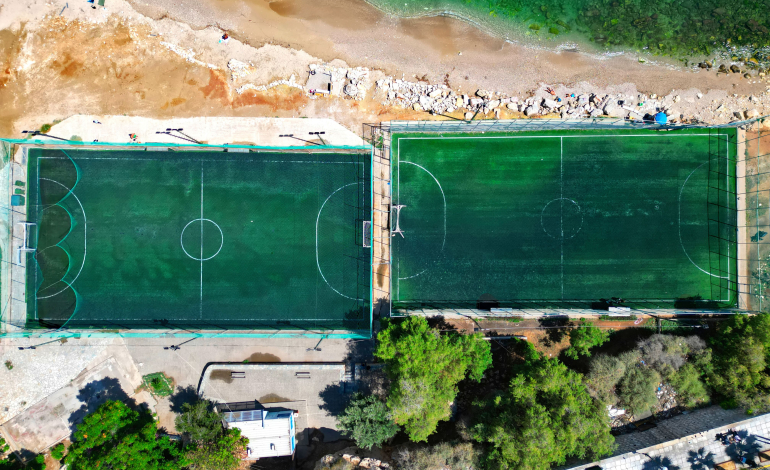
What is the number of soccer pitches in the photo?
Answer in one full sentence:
The picture shows 2 soccer pitches.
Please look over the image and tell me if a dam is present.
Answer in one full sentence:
No, I can't see a single dam in this photo.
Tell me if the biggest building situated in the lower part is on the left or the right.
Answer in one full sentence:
The biggest building situated in the lower part sits on the left side.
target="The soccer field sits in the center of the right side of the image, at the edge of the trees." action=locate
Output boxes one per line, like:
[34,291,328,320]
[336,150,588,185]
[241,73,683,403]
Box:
[393,131,737,309]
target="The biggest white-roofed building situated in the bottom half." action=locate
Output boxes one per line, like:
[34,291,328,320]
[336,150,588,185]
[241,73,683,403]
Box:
[221,394,297,459]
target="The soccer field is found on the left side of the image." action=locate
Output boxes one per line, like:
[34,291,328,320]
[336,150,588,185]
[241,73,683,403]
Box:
[28,148,371,329]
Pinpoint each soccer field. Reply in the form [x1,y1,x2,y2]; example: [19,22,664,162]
[28,148,371,329]
[393,131,737,309]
